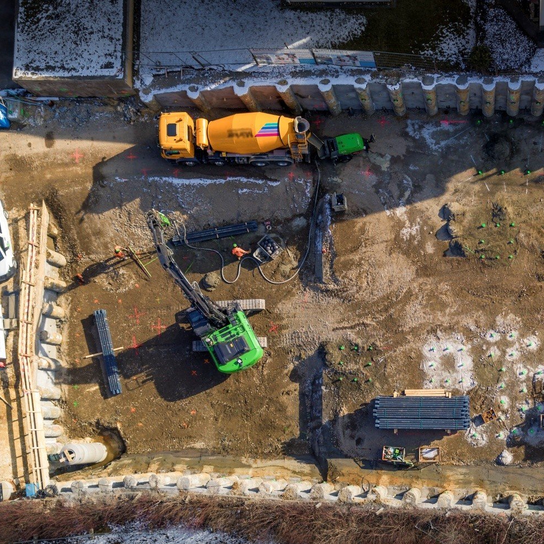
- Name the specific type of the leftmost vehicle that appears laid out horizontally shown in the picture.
truck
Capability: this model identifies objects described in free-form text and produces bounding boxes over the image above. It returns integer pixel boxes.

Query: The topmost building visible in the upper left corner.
[12,0,156,105]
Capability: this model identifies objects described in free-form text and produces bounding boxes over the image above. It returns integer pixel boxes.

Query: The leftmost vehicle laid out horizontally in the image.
[164,108,329,172]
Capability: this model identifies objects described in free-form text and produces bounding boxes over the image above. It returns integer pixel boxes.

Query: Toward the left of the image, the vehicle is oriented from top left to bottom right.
[154,216,272,372]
